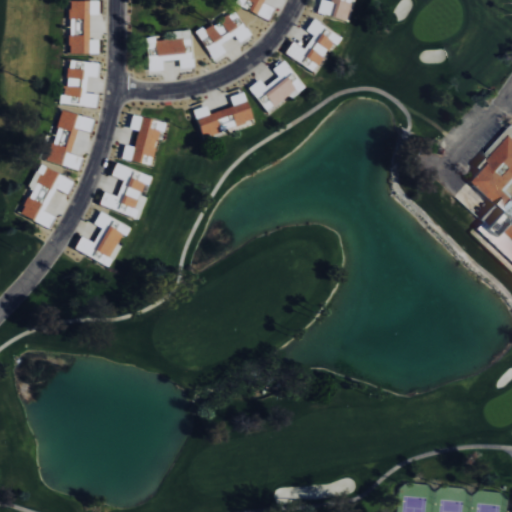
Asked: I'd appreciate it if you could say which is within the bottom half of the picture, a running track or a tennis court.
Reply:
tennis court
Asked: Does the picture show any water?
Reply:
Yes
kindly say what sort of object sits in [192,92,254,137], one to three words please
house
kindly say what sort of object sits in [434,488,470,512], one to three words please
tennis court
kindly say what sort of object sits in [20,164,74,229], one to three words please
house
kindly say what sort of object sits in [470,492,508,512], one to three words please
tennis court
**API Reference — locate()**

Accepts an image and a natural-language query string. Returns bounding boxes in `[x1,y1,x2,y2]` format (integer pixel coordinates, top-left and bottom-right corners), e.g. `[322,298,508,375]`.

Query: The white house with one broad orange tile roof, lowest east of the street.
[74,212,132,267]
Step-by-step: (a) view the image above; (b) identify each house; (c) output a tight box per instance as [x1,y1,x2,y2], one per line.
[74,212,132,267]
[68,0,101,55]
[284,18,343,74]
[317,0,354,22]
[121,115,167,166]
[194,12,252,63]
[236,0,276,21]
[146,30,195,75]
[192,92,254,137]
[248,60,306,115]
[99,163,153,220]
[46,110,95,171]
[58,60,100,108]
[20,164,74,229]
